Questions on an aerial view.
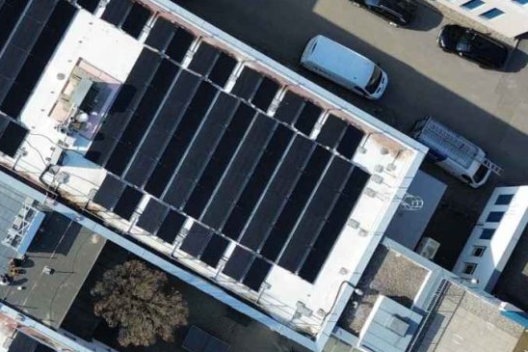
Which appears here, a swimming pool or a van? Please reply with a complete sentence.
This aerial view contains a van.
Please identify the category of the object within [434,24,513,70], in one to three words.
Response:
car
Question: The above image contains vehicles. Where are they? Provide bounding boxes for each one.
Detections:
[345,0,419,29]
[434,24,513,70]
[298,35,386,98]
[408,120,509,190]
